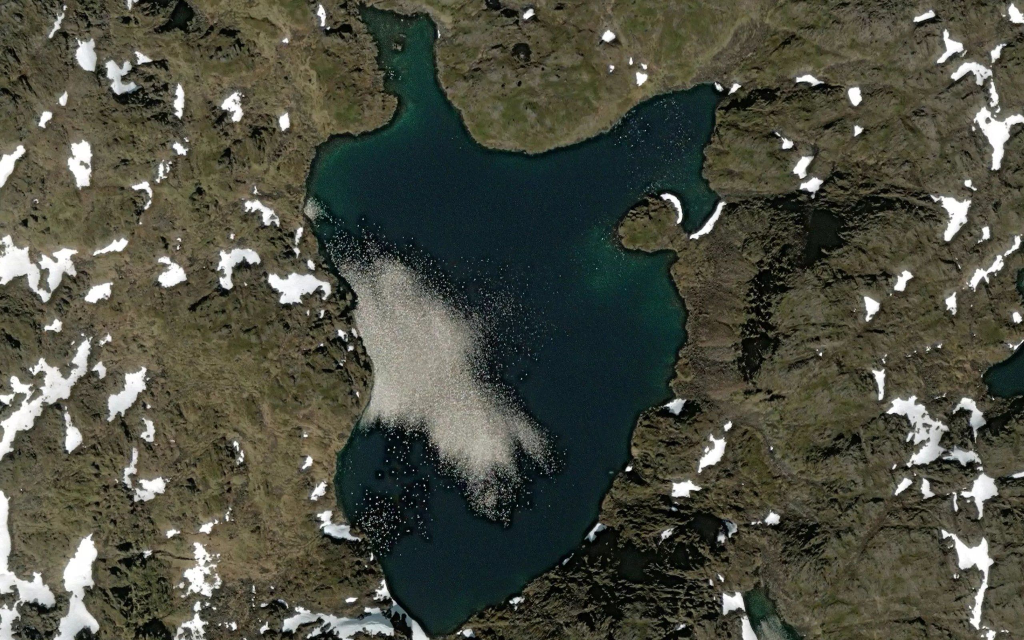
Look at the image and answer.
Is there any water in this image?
Yes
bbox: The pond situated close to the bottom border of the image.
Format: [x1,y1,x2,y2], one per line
[744,586,804,640]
